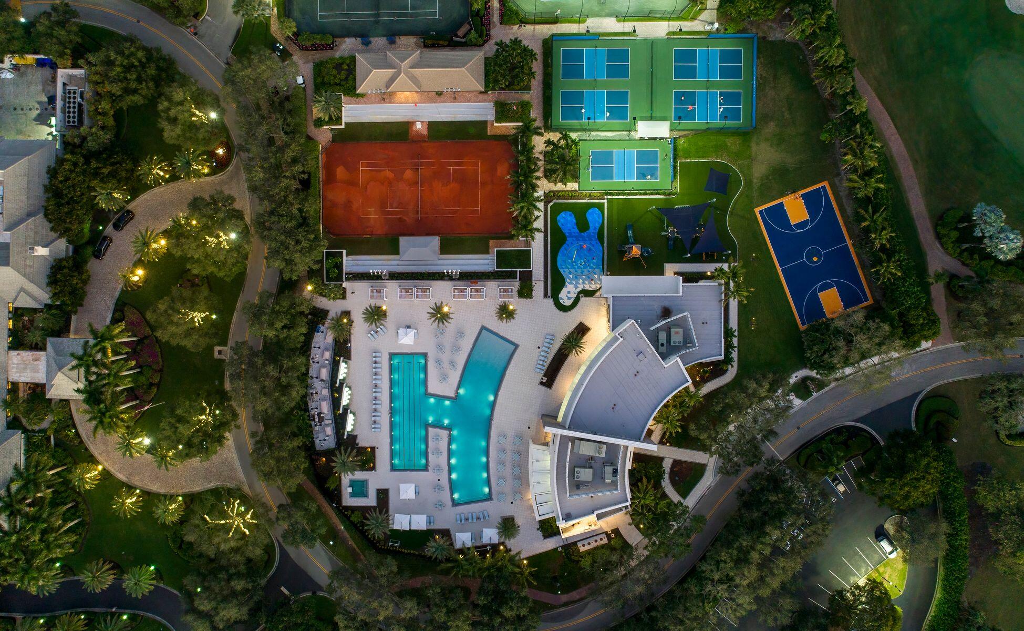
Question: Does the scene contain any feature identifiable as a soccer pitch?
No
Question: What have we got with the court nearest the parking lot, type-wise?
basketball court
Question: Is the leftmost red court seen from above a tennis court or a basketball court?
tennis court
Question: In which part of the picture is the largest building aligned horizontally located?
top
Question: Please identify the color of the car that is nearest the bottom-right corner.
white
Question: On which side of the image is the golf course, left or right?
right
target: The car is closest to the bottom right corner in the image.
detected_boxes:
[876,533,899,558]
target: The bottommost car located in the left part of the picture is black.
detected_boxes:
[95,235,114,260]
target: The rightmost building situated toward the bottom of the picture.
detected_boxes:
[542,276,723,539]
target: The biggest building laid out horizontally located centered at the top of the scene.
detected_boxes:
[356,50,484,93]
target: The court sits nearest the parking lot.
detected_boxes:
[755,182,873,329]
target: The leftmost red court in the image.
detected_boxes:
[322,140,519,236]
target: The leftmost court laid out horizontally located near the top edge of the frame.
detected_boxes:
[286,0,471,36]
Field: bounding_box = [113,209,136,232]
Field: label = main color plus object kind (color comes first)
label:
black car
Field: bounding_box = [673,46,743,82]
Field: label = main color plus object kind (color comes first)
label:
blue sports court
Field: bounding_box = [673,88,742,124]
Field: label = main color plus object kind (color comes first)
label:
blue sports court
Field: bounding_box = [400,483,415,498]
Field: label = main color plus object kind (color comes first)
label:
white umbrella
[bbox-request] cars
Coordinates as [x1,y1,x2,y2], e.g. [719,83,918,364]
[113,209,136,232]
[95,235,114,260]
[876,533,899,558]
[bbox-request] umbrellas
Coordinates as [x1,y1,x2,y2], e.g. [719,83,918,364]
[400,328,416,344]
[394,513,410,529]
[386,35,396,45]
[361,36,371,46]
[482,527,497,543]
[411,513,426,529]
[400,483,415,498]
[456,531,471,547]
